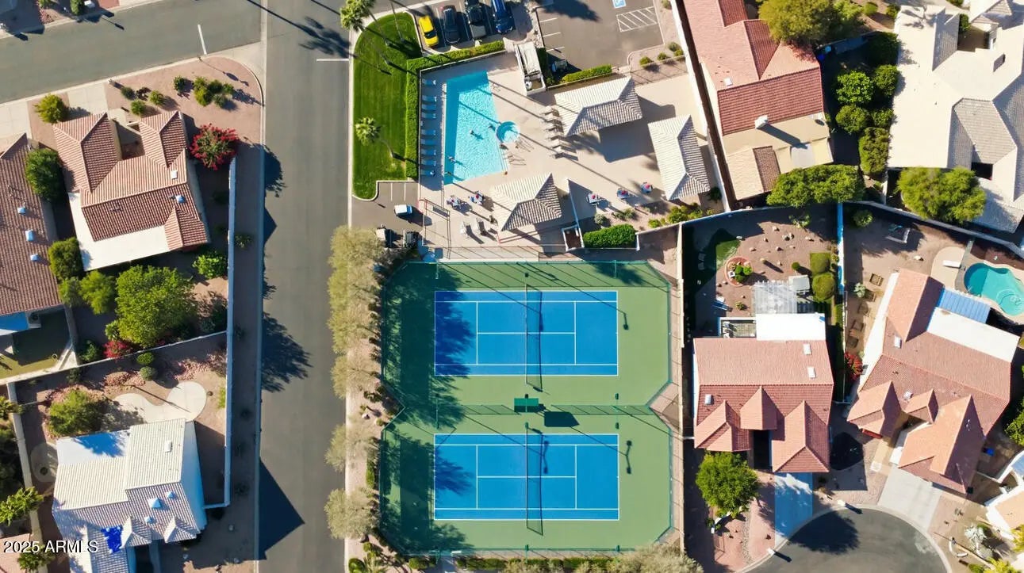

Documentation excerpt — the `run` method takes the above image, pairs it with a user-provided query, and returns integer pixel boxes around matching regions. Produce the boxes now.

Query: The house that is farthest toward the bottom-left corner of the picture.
[52,418,208,573]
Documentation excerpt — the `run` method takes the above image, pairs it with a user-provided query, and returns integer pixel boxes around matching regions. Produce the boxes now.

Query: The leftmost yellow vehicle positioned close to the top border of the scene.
[419,16,439,47]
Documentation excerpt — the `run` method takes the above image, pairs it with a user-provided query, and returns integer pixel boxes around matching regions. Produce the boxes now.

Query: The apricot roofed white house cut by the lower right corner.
[974,443,1024,530]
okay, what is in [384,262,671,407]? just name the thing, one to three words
tennis court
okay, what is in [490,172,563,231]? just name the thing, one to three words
building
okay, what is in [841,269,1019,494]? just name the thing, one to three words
house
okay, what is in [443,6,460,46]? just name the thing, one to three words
car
